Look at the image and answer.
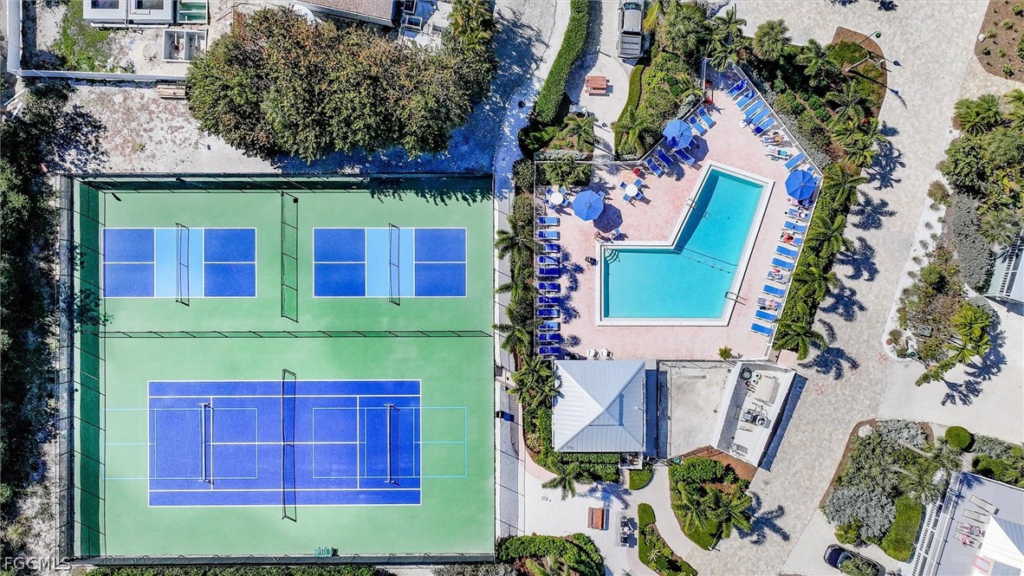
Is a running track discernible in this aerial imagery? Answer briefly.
No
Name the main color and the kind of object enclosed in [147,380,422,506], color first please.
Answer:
blue tennis court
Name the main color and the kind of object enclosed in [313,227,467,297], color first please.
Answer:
blue sports court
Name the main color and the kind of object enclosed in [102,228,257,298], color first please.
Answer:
blue sports court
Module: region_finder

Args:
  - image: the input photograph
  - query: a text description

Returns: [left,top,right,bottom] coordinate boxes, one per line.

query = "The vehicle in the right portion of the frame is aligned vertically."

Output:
[619,0,647,57]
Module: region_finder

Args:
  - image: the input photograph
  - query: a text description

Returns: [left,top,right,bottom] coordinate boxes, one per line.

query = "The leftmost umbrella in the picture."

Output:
[572,190,604,221]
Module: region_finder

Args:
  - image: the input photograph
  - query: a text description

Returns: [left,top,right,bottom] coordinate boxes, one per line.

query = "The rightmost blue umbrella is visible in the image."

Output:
[784,170,815,201]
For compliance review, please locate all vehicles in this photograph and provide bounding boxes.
[619,0,647,57]
[824,540,882,576]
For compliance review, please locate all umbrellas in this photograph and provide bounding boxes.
[572,190,604,221]
[661,120,693,151]
[784,170,815,201]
